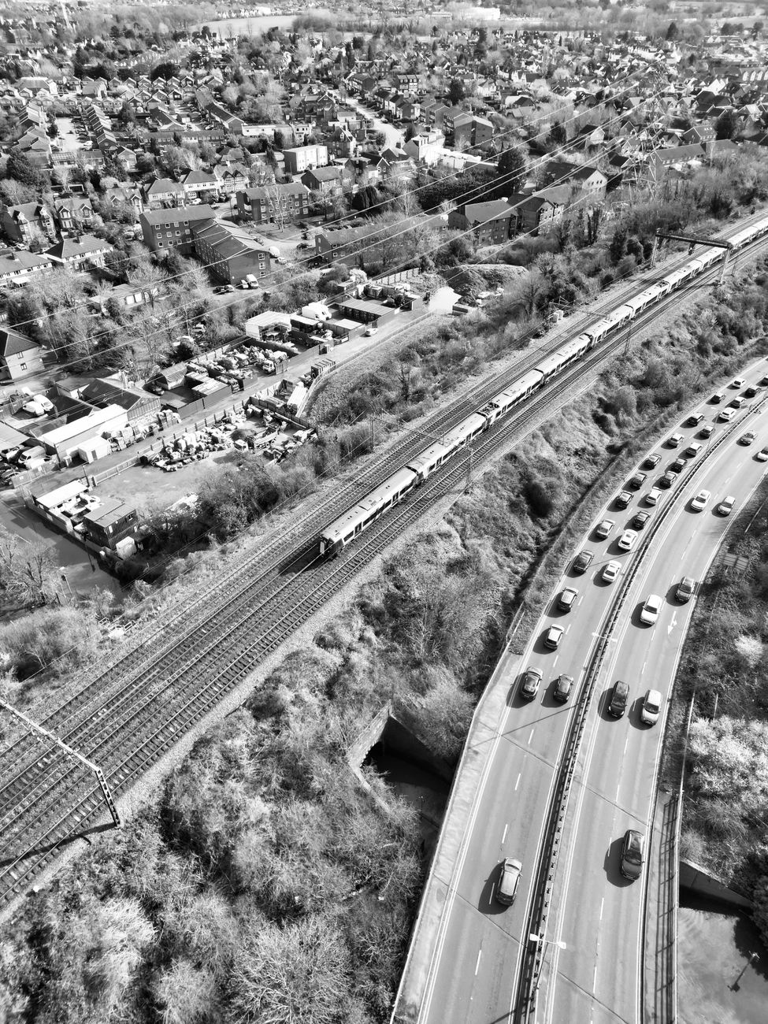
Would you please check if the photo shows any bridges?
Yes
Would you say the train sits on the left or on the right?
right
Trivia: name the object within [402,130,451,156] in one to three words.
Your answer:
house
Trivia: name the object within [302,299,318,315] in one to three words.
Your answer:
vehicle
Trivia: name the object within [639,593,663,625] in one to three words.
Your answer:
car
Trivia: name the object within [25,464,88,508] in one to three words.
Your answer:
shed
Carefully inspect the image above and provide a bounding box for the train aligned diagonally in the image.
[325,218,768,556]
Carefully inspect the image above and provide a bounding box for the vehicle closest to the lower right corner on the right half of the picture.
[618,827,645,883]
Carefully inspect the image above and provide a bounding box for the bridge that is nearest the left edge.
[317,689,392,767]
